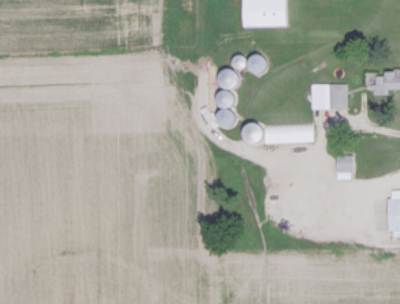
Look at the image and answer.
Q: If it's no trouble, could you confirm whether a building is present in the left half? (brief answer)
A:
No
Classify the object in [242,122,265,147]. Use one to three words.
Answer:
silo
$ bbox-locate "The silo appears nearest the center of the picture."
[216,109,238,132]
